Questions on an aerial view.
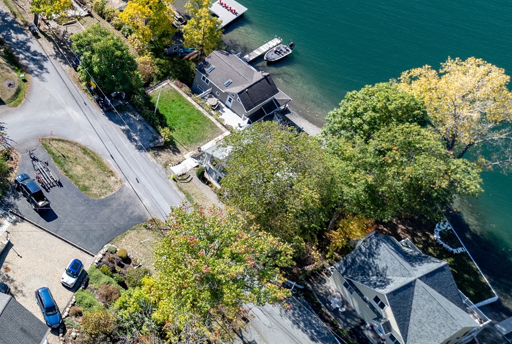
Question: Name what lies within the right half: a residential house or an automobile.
residential house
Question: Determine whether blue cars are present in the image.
Yes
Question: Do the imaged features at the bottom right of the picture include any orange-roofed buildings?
No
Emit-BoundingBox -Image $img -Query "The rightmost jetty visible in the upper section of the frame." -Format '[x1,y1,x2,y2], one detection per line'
[242,34,283,63]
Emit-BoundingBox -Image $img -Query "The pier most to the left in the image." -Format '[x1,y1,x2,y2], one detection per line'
[208,0,248,34]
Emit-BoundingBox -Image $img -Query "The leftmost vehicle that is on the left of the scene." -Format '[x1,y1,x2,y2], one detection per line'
[0,272,14,294]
